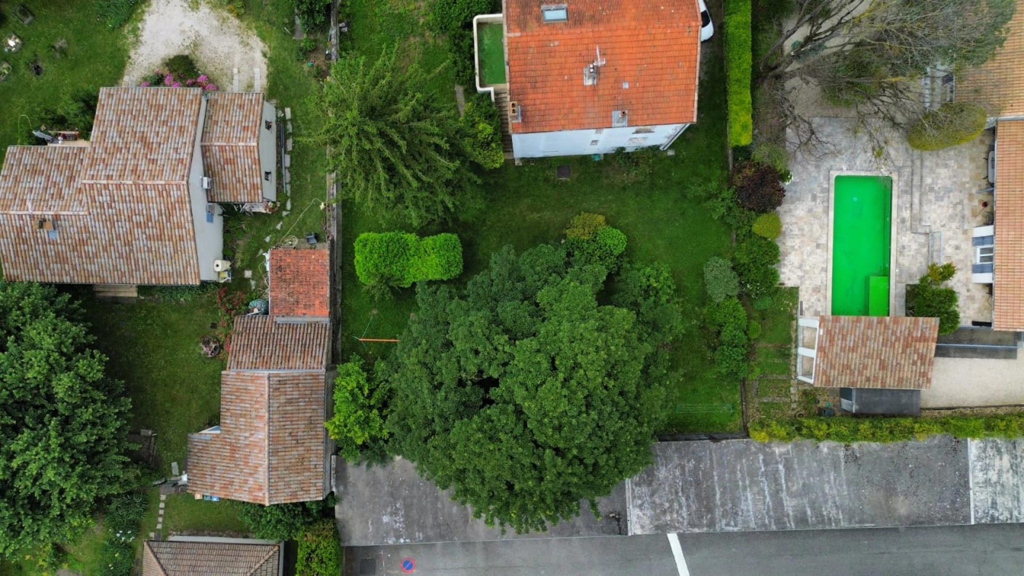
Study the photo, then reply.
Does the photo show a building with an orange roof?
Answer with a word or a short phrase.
Yes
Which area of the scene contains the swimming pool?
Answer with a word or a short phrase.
right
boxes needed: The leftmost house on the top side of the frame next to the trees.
[0,85,216,299]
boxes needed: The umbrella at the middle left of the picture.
[251,298,268,315]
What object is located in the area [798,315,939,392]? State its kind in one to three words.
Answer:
building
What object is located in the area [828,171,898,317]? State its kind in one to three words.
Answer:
swimming pool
